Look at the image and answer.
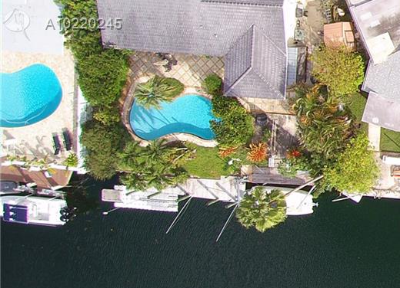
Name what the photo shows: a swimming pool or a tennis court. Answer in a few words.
swimming pool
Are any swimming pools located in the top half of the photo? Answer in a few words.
Yes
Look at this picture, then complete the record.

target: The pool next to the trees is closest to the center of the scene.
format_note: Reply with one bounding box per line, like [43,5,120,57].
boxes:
[125,90,220,144]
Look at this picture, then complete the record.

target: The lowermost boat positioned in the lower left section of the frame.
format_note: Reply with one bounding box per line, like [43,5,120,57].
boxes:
[0,197,74,227]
